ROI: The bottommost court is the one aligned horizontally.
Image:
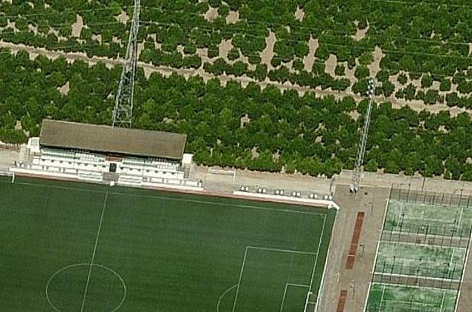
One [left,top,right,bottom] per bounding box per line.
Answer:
[363,266,460,312]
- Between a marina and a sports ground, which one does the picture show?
sports ground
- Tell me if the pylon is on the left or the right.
left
